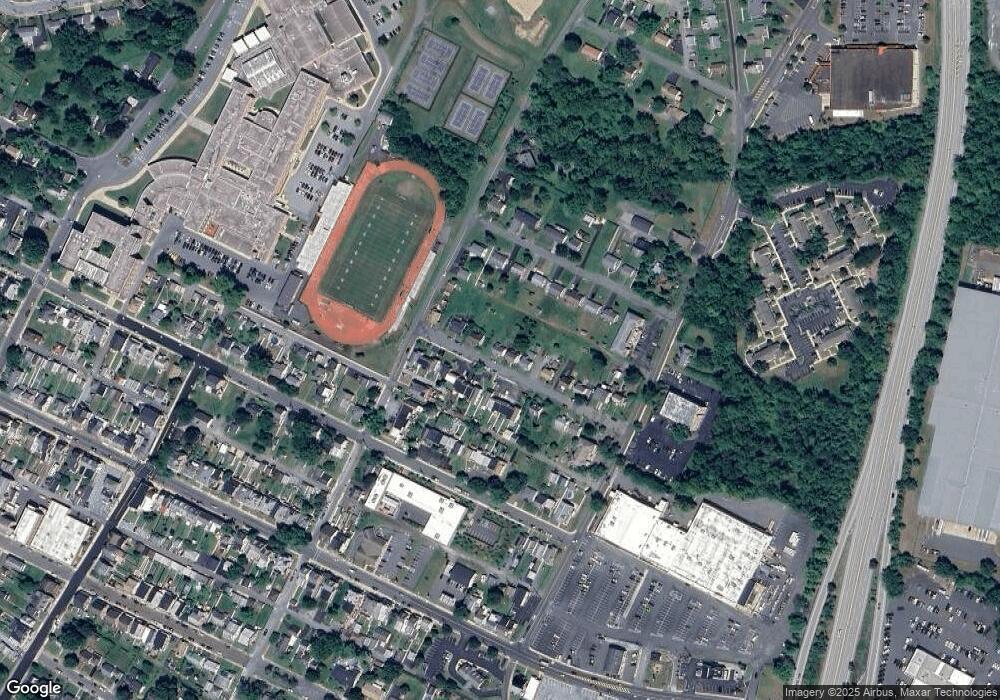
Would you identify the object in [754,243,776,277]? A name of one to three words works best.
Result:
building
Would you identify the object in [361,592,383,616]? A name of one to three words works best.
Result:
house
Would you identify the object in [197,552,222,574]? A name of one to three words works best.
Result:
house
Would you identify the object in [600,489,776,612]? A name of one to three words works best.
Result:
building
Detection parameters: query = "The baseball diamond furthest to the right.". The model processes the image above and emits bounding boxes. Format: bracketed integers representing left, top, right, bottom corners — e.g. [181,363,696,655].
[507,0,549,46]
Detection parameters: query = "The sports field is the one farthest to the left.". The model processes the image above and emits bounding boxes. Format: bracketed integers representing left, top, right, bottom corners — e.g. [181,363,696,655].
[320,171,435,321]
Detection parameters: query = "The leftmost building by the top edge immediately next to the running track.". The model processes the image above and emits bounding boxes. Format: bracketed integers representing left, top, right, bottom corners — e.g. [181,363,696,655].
[131,0,377,263]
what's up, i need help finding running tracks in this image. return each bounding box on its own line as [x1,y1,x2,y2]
[300,159,444,345]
